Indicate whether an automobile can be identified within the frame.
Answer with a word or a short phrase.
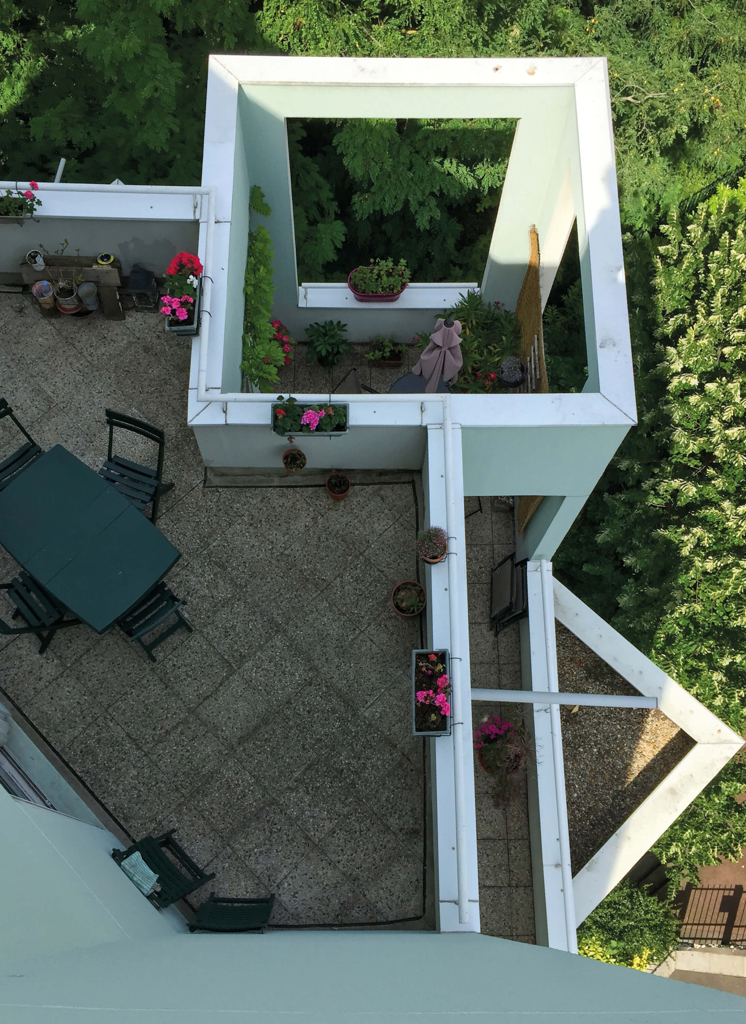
No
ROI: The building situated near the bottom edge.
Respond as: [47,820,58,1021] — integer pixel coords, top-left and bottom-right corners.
[0,682,746,1024]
